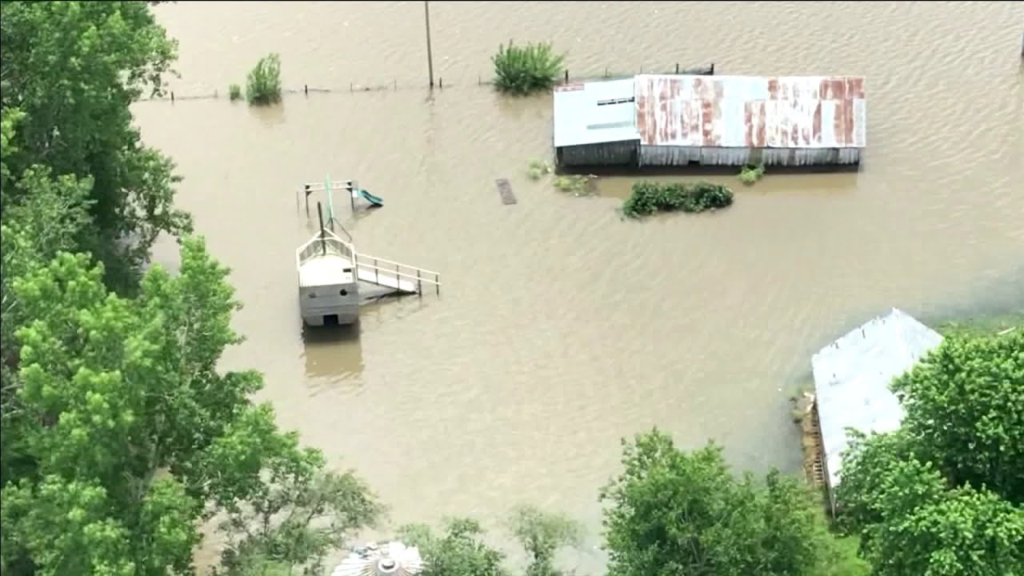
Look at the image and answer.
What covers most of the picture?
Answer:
water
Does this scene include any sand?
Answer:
No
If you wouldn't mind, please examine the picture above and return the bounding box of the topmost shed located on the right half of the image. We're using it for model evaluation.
[555,74,866,177]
